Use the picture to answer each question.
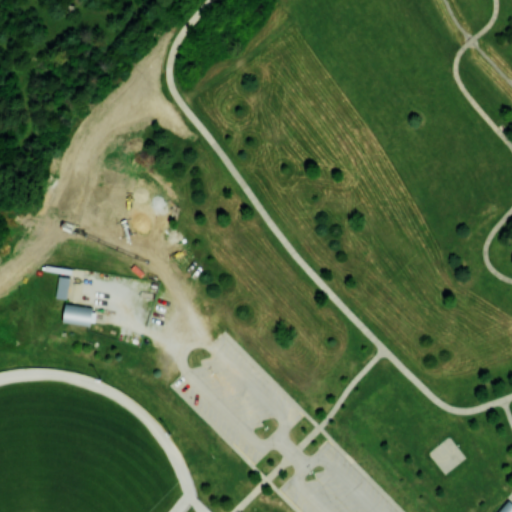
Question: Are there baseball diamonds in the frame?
No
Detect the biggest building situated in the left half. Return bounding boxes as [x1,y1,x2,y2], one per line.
[62,304,96,328]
